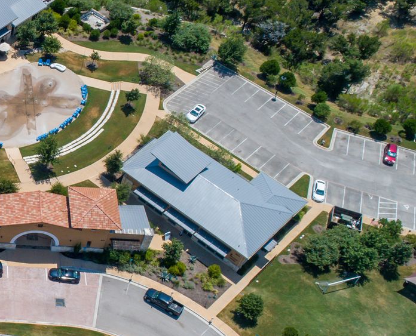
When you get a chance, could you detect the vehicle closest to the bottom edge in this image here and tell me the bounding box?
[144,292,185,318]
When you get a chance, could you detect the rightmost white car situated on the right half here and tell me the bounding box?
[313,179,327,203]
